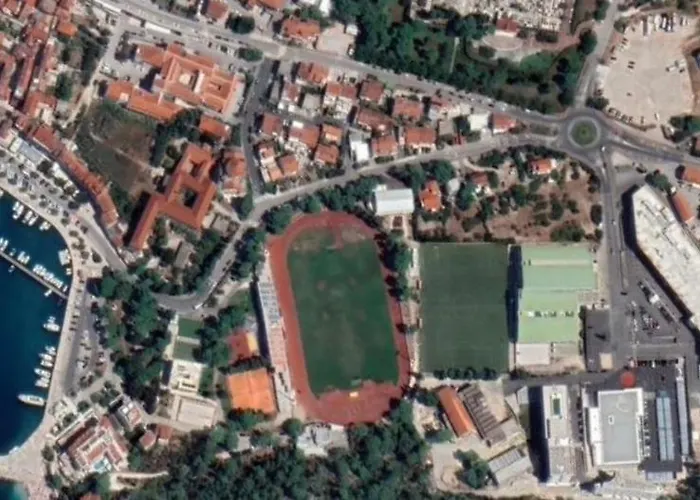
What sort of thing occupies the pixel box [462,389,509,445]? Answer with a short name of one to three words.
building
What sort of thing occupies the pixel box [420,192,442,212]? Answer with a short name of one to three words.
house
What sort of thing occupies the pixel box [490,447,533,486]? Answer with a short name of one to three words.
shed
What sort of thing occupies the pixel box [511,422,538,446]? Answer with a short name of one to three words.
house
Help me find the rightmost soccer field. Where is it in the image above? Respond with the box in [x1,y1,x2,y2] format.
[420,243,509,373]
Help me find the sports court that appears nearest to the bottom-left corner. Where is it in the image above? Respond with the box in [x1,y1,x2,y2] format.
[176,397,217,425]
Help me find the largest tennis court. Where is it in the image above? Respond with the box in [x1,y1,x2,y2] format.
[227,370,275,413]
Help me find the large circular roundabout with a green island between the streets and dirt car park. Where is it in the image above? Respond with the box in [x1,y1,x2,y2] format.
[554,103,613,162]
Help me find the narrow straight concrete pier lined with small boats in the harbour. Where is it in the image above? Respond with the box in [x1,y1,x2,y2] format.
[0,251,70,300]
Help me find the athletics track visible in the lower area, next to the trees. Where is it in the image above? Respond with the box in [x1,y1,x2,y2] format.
[268,211,412,426]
